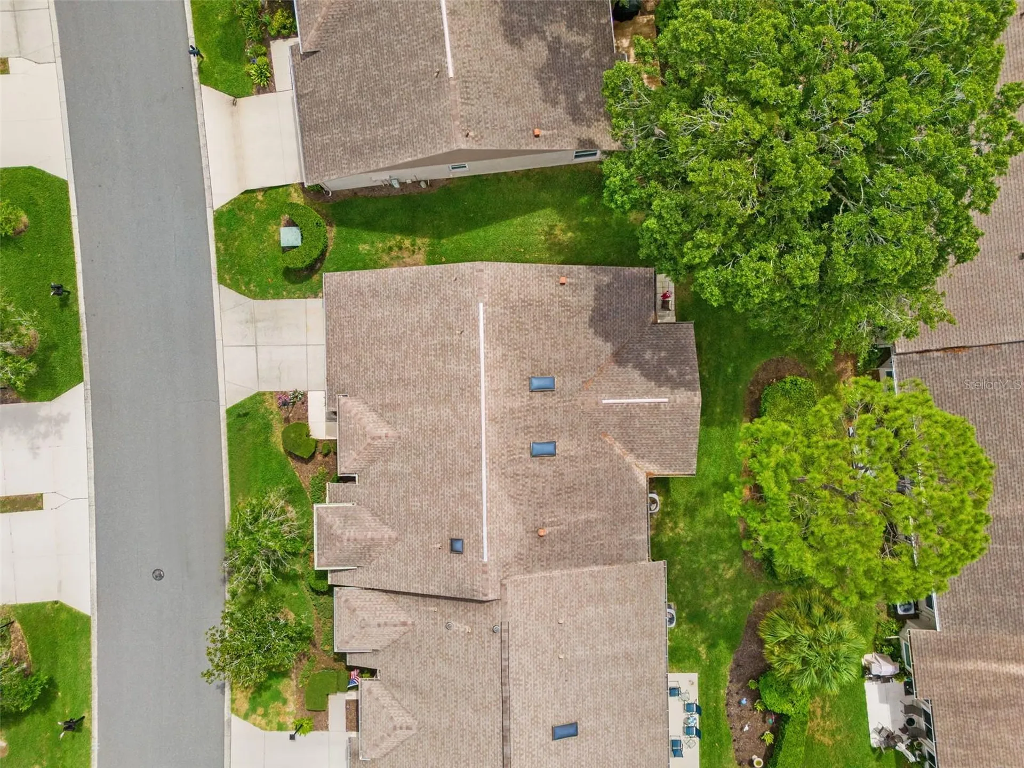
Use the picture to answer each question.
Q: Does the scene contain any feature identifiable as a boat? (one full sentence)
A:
No, no boat is visible in the view.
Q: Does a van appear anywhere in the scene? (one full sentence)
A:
No, no van is visible in the view.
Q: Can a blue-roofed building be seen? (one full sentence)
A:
No, the scene contains no blue-roofed building.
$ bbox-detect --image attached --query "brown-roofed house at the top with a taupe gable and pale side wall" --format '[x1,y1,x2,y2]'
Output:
[288,0,628,197]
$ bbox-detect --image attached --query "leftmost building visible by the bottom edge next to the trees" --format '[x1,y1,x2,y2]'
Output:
[329,560,670,768]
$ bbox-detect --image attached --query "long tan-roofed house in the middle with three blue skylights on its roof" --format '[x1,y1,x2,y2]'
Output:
[312,261,701,601]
